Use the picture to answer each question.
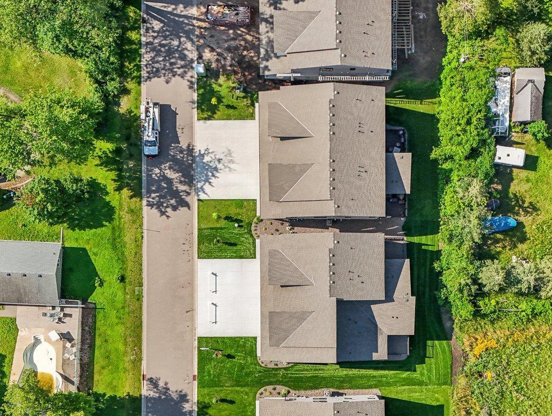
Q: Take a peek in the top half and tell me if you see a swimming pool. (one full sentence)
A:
No, no swimming pool appears in the top half.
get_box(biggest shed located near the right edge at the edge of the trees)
[506,68,544,124]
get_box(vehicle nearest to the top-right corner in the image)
[493,147,524,168]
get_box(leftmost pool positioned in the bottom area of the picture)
[17,333,61,404]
